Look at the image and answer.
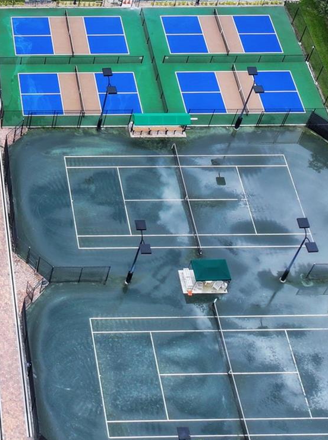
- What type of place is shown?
sports ground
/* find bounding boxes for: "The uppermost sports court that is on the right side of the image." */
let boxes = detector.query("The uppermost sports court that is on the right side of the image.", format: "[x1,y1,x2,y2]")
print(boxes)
[160,8,284,54]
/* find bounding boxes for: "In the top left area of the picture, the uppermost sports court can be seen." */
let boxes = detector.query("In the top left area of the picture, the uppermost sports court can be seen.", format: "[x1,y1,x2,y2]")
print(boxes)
[11,10,130,57]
